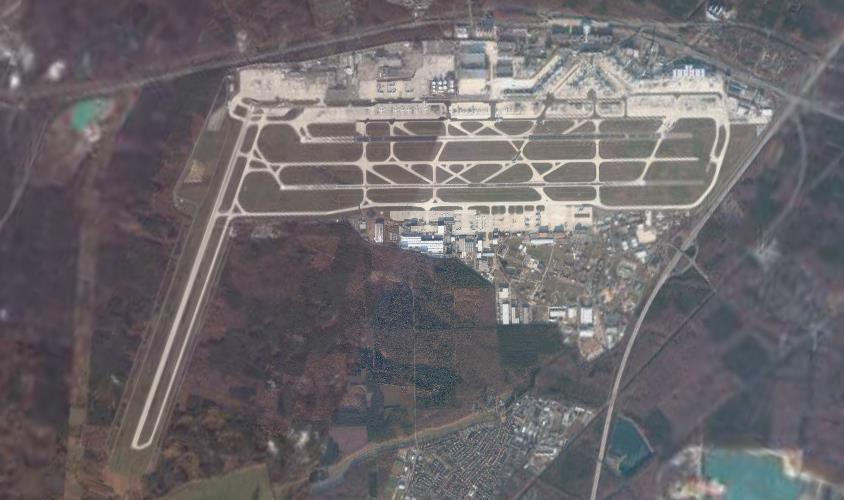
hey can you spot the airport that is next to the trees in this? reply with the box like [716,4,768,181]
[109,42,769,472]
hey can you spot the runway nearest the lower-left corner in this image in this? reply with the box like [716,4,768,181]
[132,110,253,447]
